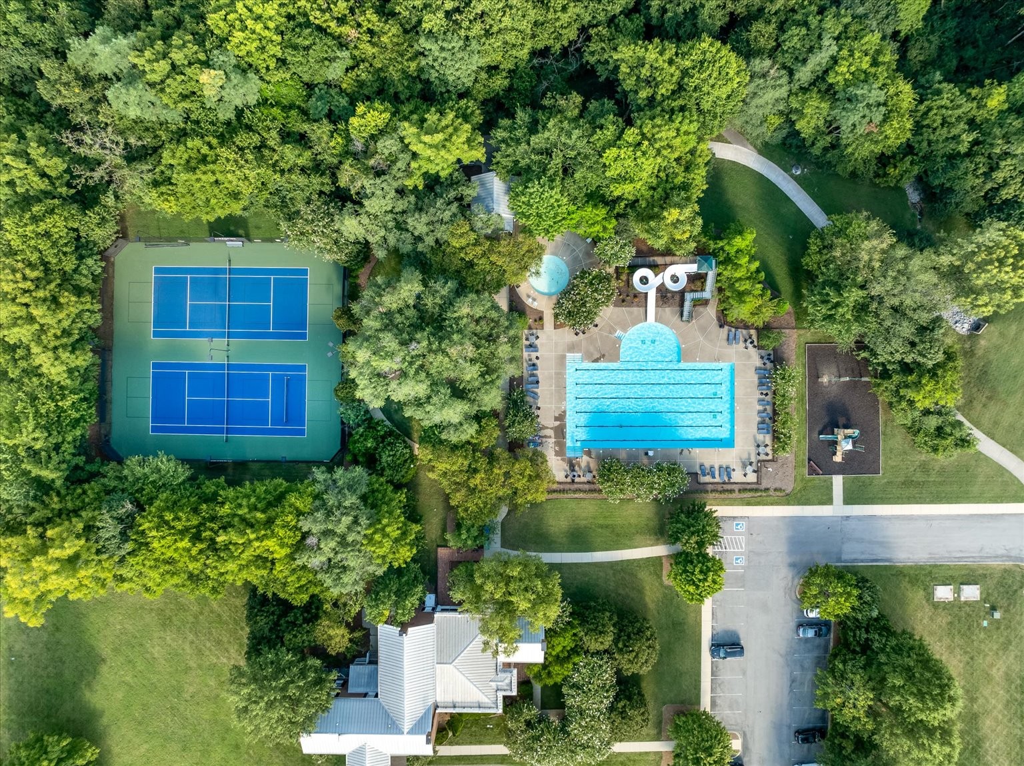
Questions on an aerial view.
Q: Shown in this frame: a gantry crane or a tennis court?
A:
tennis court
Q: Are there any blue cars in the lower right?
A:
Yes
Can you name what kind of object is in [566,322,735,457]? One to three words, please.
swimming pool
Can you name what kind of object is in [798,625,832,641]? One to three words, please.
car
